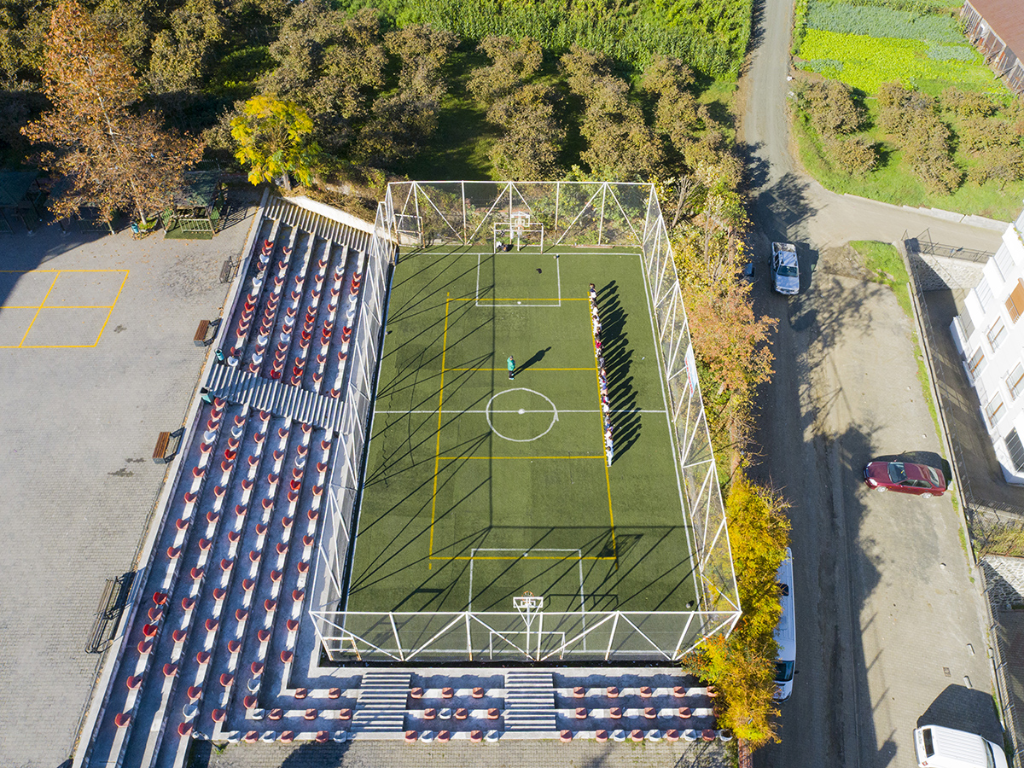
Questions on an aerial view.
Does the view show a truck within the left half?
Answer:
No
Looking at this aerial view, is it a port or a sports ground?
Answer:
sports ground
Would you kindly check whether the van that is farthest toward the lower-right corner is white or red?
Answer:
white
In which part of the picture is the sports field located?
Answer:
center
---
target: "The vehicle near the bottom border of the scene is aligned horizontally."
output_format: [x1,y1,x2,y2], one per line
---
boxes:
[911,722,1016,768]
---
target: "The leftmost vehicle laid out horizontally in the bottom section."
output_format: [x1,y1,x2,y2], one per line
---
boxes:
[865,466,952,504]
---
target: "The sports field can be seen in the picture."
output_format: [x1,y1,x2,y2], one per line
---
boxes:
[331,243,710,663]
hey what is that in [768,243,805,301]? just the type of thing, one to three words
truck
